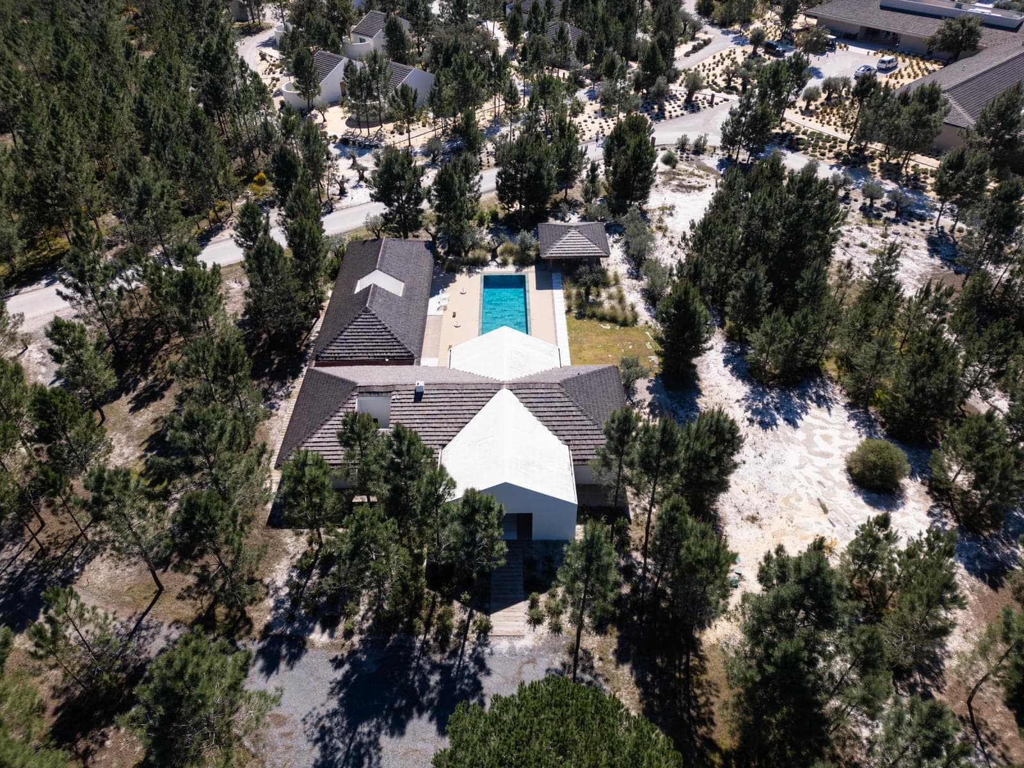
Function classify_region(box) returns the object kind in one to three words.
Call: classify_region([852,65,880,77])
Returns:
vehicle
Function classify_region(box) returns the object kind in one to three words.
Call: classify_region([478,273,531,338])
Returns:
swimming pool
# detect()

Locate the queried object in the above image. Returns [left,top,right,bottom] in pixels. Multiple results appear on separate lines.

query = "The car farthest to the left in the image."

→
[763,41,790,55]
